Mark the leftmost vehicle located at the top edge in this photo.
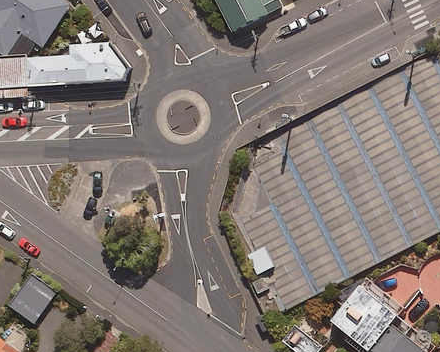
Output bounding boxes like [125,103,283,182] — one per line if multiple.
[93,0,112,16]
